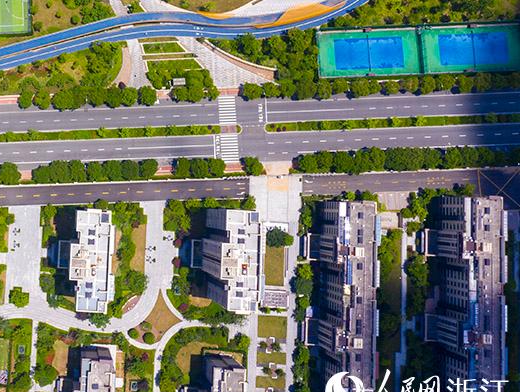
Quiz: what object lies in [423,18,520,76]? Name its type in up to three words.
tennis court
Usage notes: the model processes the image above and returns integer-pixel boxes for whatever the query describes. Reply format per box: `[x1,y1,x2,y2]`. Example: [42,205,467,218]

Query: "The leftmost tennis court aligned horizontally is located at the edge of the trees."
[316,22,427,80]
